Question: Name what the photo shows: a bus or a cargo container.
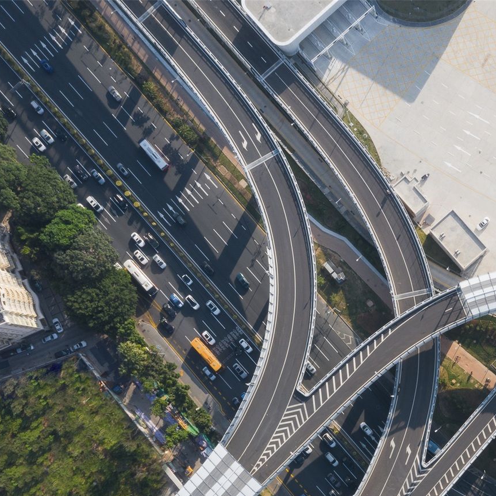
bus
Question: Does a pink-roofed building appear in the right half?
No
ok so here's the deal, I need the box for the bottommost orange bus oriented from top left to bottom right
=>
[186,337,222,374]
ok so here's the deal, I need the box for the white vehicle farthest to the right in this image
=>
[477,214,492,232]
